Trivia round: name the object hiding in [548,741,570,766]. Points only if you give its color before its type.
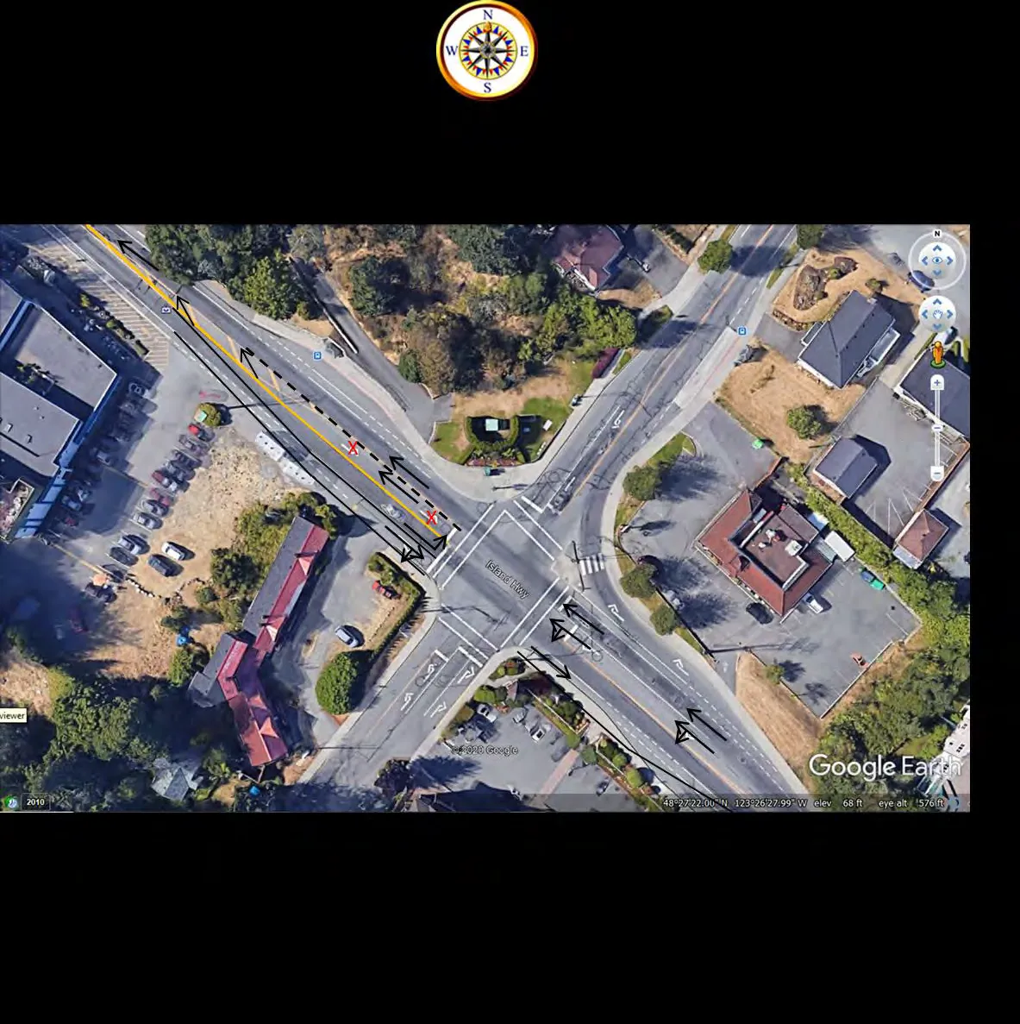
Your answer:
gray car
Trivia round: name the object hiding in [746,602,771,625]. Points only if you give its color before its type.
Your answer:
black car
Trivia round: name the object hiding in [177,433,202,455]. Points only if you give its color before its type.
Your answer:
gray car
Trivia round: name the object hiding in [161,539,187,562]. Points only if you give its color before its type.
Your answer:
white car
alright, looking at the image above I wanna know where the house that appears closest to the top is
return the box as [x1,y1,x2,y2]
[552,224,624,297]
